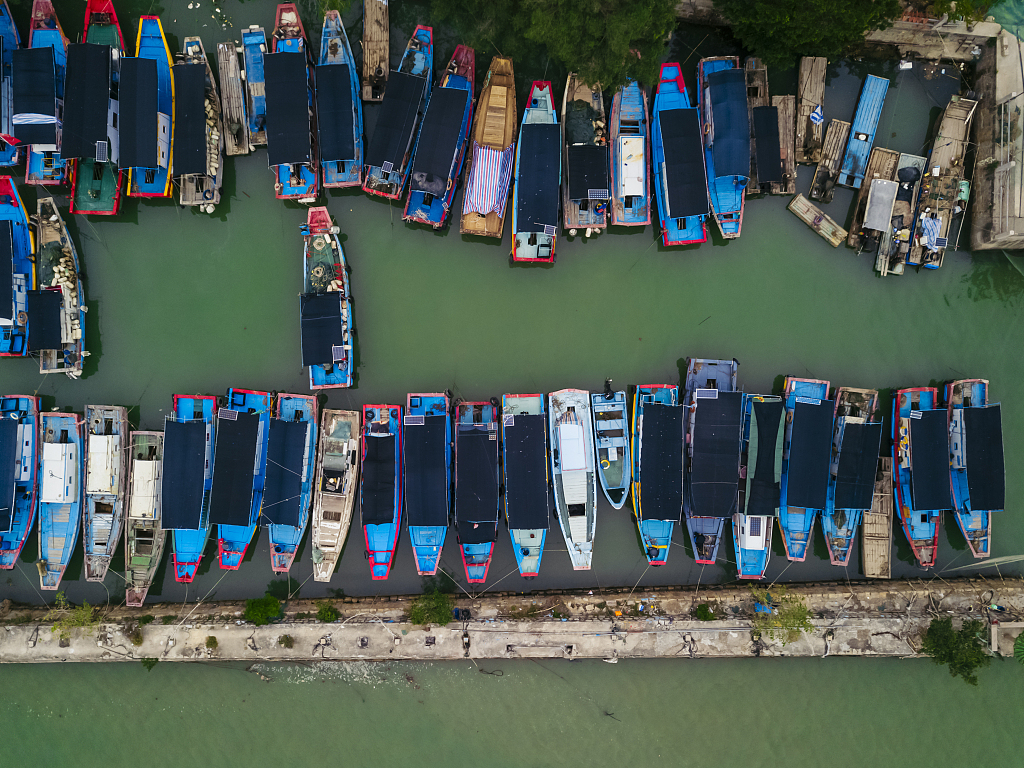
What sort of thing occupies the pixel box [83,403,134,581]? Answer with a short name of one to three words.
boat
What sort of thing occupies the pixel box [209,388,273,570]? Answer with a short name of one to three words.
boat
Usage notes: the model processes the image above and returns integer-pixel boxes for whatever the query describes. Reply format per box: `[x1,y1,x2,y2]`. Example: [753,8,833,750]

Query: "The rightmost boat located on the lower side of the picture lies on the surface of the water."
[940,379,1005,557]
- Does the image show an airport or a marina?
marina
